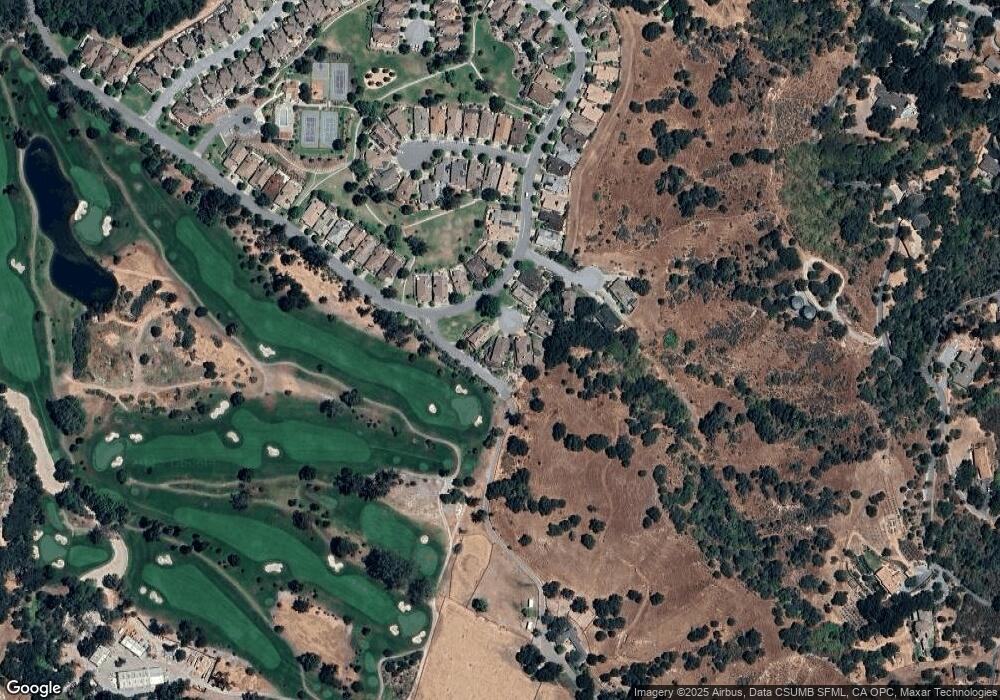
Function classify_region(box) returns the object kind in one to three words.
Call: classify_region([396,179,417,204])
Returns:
house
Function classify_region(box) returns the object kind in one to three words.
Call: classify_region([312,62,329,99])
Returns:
sports court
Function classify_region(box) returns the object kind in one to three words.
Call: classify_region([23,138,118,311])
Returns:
pond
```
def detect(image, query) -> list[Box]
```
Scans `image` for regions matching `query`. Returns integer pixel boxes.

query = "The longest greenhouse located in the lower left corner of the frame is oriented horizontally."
[116,668,161,689]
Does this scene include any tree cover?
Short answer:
Yes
